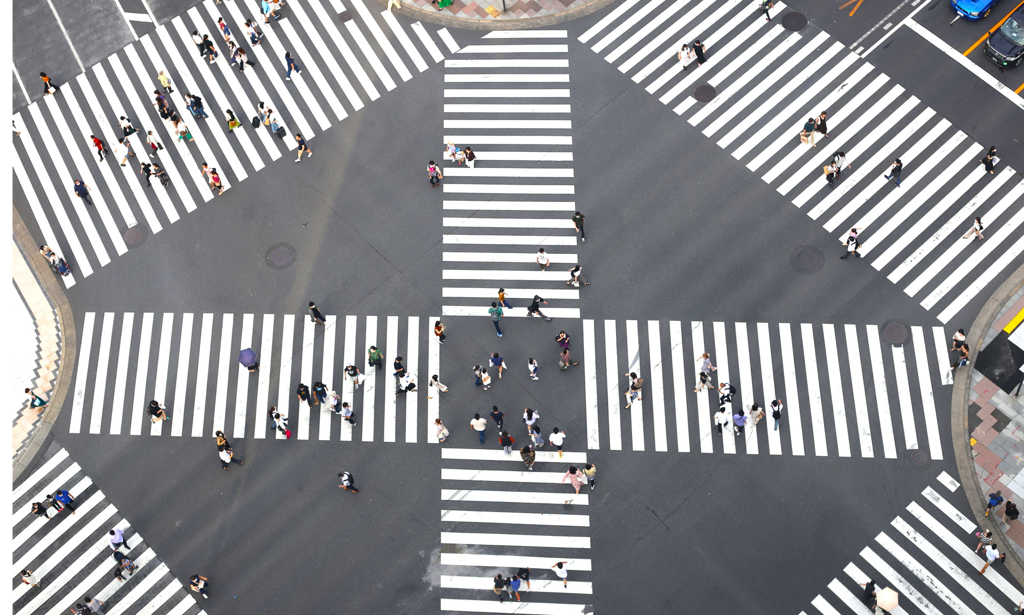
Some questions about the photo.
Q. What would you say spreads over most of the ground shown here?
paved ground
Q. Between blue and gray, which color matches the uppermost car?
blue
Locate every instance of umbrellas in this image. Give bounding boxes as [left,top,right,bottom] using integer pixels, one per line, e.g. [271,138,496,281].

[237,351,256,370]
[873,588,899,612]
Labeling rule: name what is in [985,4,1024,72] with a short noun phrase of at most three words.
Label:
car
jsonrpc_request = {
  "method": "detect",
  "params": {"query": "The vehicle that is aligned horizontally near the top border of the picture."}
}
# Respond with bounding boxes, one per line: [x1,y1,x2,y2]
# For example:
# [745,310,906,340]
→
[950,0,1003,25]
